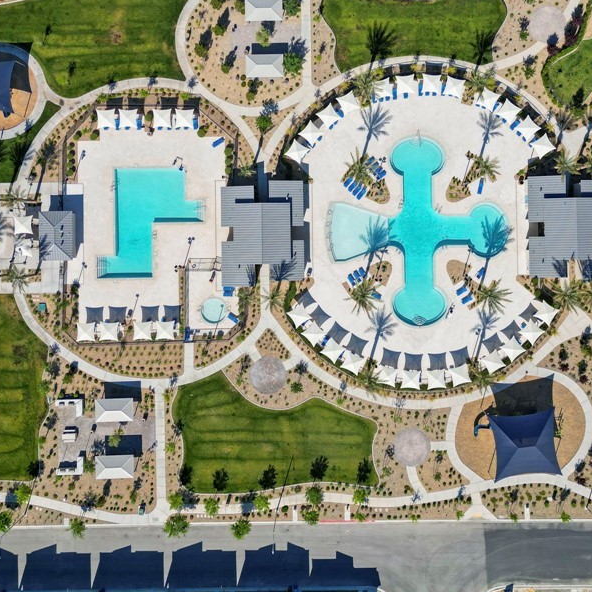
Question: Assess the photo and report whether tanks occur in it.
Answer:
No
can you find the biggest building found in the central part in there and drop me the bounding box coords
[221,181,304,286]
